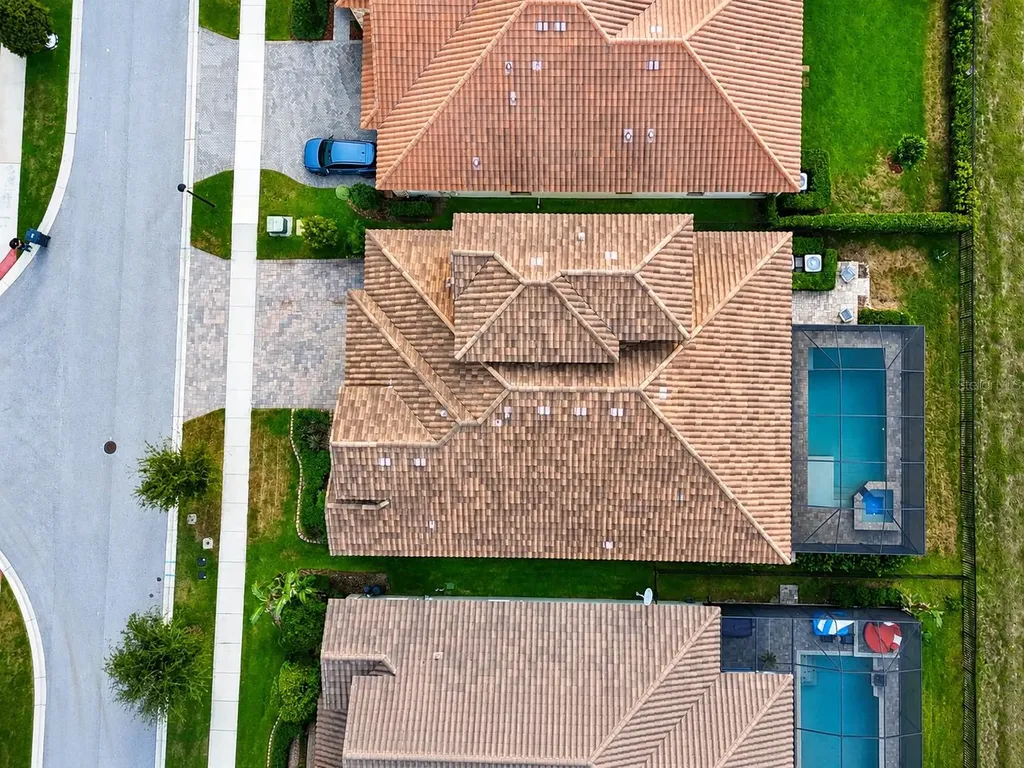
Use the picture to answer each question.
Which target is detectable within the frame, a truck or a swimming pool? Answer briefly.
swimming pool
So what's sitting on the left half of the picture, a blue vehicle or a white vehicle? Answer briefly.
blue vehicle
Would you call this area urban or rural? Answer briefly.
urban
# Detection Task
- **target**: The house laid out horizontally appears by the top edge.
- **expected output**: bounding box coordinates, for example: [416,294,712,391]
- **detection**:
[334,0,805,203]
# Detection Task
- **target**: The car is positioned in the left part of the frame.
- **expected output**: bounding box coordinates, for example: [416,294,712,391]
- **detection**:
[305,135,377,177]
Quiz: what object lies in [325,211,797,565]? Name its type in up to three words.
house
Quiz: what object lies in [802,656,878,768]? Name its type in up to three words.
swimming pool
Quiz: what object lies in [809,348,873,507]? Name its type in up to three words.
swimming pool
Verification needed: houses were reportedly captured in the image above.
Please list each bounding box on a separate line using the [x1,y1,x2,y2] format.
[304,593,797,768]
[325,211,797,565]
[334,0,805,203]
